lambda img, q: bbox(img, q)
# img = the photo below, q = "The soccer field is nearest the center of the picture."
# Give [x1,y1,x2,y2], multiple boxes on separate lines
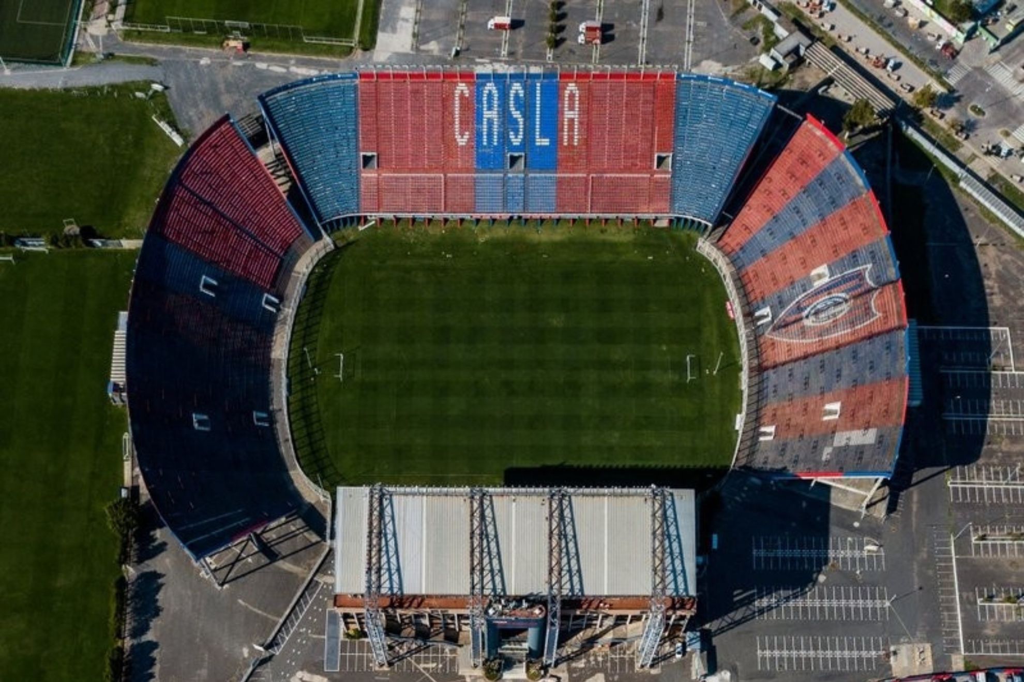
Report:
[287,219,745,538]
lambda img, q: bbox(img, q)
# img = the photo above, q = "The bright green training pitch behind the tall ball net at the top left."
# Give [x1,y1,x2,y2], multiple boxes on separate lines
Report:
[119,0,359,59]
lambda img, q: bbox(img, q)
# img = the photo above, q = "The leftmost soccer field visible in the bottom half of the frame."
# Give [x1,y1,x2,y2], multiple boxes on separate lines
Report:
[0,250,145,682]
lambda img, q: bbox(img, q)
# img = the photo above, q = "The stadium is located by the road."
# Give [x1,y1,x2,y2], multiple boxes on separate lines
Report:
[124,64,908,680]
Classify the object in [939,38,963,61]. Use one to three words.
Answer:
truck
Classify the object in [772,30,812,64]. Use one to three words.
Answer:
house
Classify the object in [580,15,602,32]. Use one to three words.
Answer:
vehicle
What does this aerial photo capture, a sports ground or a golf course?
sports ground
